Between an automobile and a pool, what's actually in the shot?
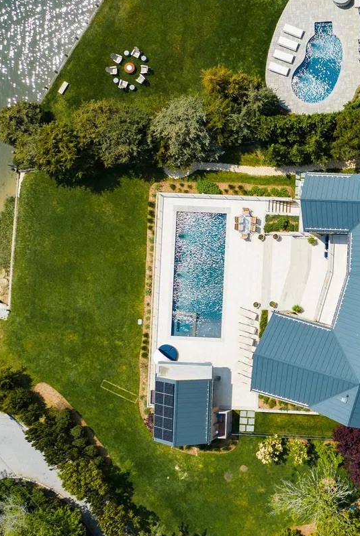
pool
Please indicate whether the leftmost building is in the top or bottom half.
bottom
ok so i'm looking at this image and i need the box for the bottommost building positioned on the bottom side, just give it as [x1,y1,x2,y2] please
[152,360,220,447]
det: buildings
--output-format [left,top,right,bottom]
[251,170,360,428]
[152,360,220,447]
